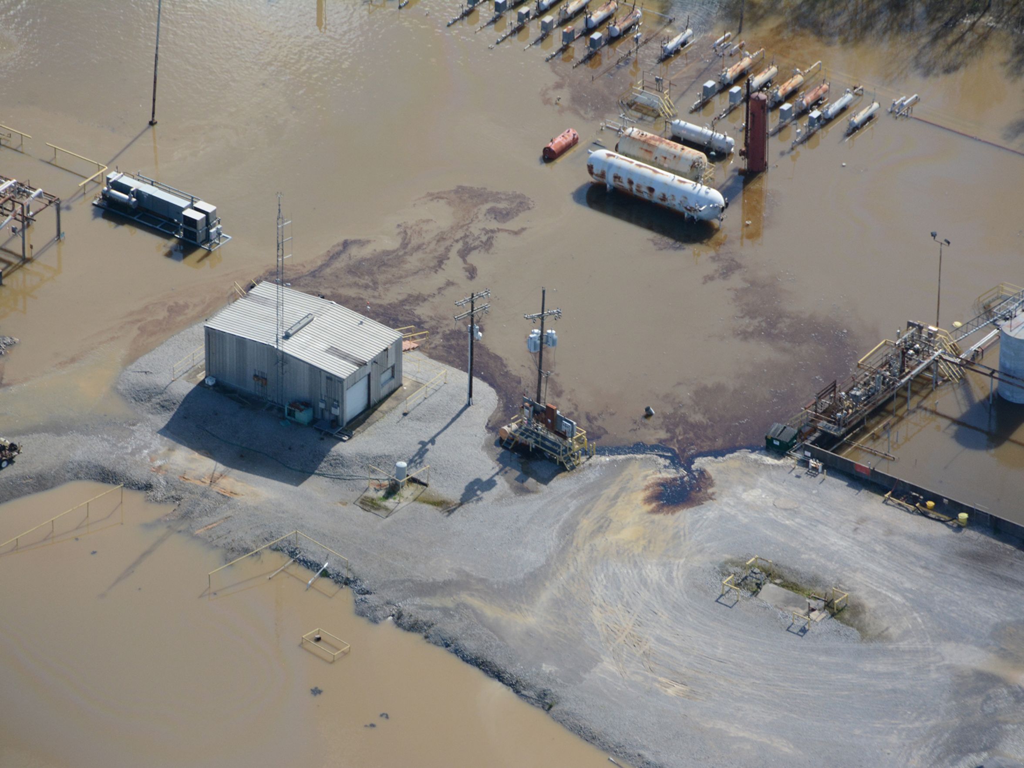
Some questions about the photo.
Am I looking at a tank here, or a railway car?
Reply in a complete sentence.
This aerial view contains a tank.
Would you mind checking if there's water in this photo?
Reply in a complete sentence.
Yes, water can be seen from above here.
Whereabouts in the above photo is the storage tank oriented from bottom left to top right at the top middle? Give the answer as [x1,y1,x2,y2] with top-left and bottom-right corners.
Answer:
[543,128,579,159]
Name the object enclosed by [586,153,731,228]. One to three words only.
storage tank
